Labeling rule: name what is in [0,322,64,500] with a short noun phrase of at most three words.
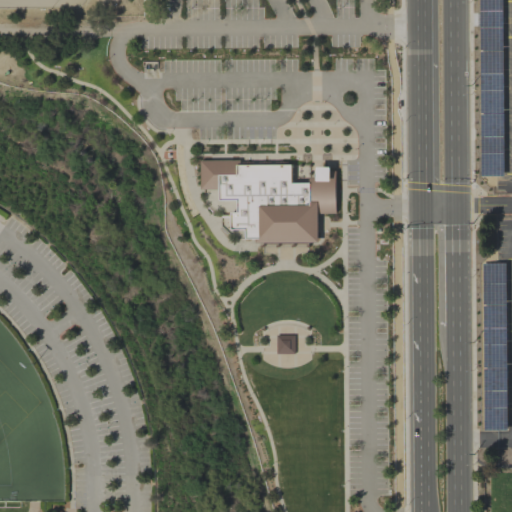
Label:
sports field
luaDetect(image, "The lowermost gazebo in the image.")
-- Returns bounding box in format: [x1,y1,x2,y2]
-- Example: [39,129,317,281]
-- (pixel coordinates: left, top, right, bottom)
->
[277,333,298,354]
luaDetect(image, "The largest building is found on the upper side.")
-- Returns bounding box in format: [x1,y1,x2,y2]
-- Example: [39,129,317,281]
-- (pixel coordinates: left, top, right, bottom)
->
[200,158,336,245]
